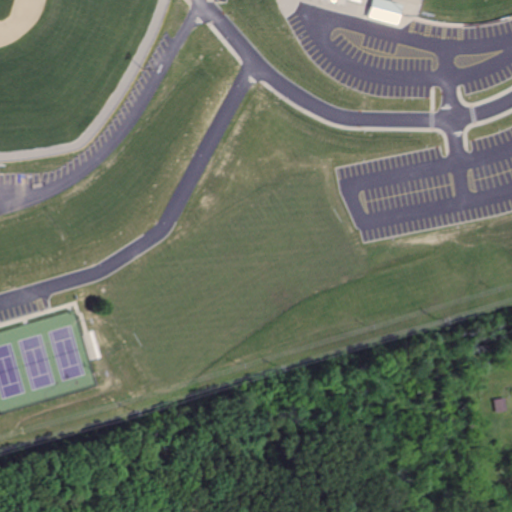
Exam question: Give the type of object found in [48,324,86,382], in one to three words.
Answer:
tennis court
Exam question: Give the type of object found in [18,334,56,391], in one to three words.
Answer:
tennis court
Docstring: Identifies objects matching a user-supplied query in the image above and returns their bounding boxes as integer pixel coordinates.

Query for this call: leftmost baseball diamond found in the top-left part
[0,0,169,162]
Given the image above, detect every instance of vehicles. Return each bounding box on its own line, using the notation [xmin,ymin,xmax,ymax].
[157,64,164,74]
[32,182,43,188]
